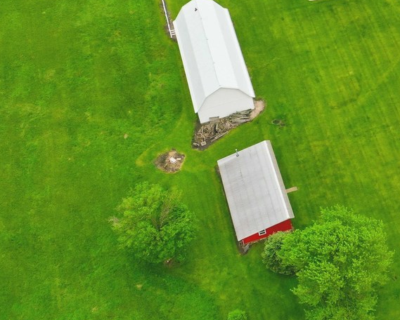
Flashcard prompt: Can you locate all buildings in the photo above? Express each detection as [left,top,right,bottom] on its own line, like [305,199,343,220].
[173,0,256,123]
[218,141,294,244]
